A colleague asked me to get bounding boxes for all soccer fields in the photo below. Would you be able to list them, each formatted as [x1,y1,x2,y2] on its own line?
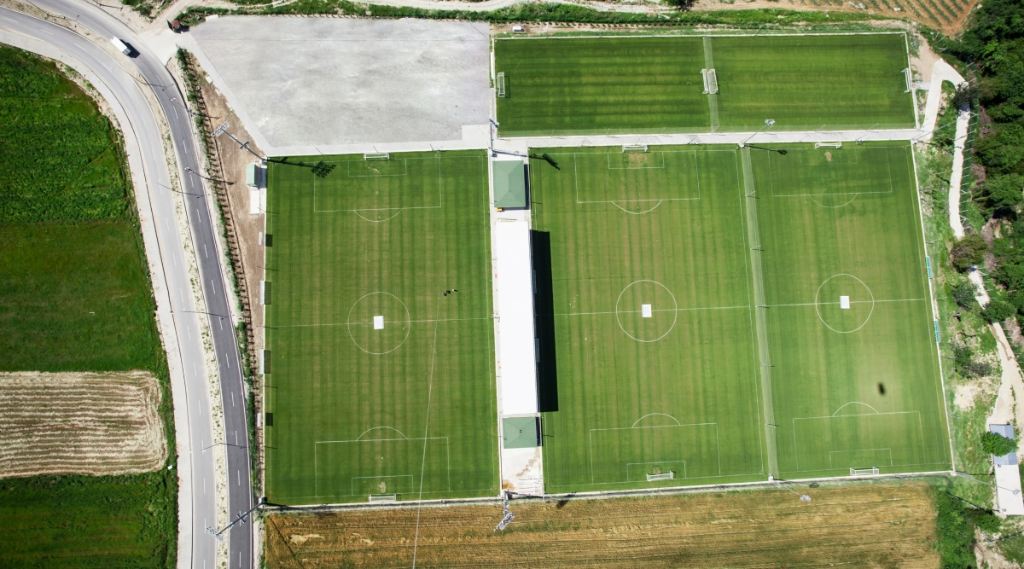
[741,139,955,482]
[492,31,919,140]
[527,142,771,498]
[261,148,503,508]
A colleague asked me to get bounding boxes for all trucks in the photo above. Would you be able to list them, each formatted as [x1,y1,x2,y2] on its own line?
[110,36,138,60]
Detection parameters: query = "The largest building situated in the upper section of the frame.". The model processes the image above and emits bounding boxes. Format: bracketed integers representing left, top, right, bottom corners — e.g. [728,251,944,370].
[492,160,526,207]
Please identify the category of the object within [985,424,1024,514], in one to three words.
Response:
building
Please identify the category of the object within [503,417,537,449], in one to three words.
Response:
building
